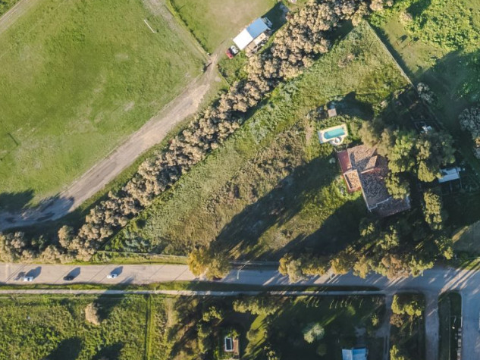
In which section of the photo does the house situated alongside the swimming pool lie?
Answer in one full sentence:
The house situated alongside the swimming pool sits in the right section of the image.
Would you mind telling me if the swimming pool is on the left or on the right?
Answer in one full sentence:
It is on the right.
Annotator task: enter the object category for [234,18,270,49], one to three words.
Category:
shed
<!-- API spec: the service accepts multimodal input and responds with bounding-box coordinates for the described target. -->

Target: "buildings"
[234,18,270,49]
[438,166,461,182]
[343,347,370,360]
[337,142,410,217]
